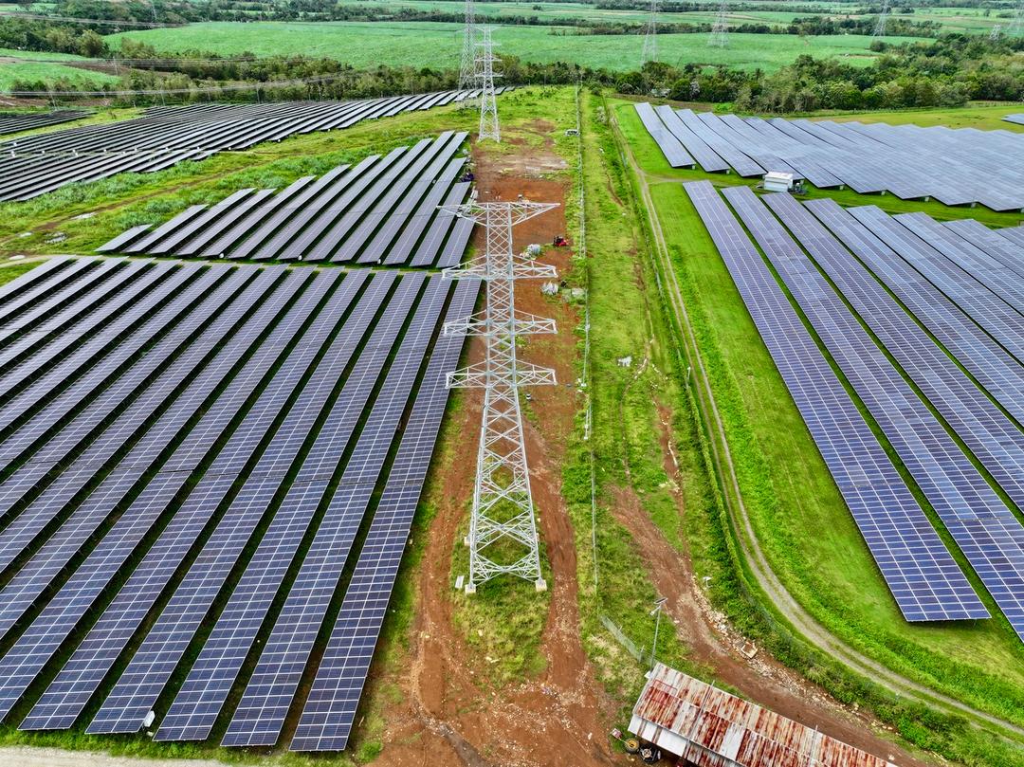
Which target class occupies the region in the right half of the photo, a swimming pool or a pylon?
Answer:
pylon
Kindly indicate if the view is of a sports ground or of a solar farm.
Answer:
solar farm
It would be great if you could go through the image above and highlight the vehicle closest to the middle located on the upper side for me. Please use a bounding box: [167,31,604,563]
[554,235,569,247]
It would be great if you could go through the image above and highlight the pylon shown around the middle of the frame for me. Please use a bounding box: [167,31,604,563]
[436,197,562,593]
